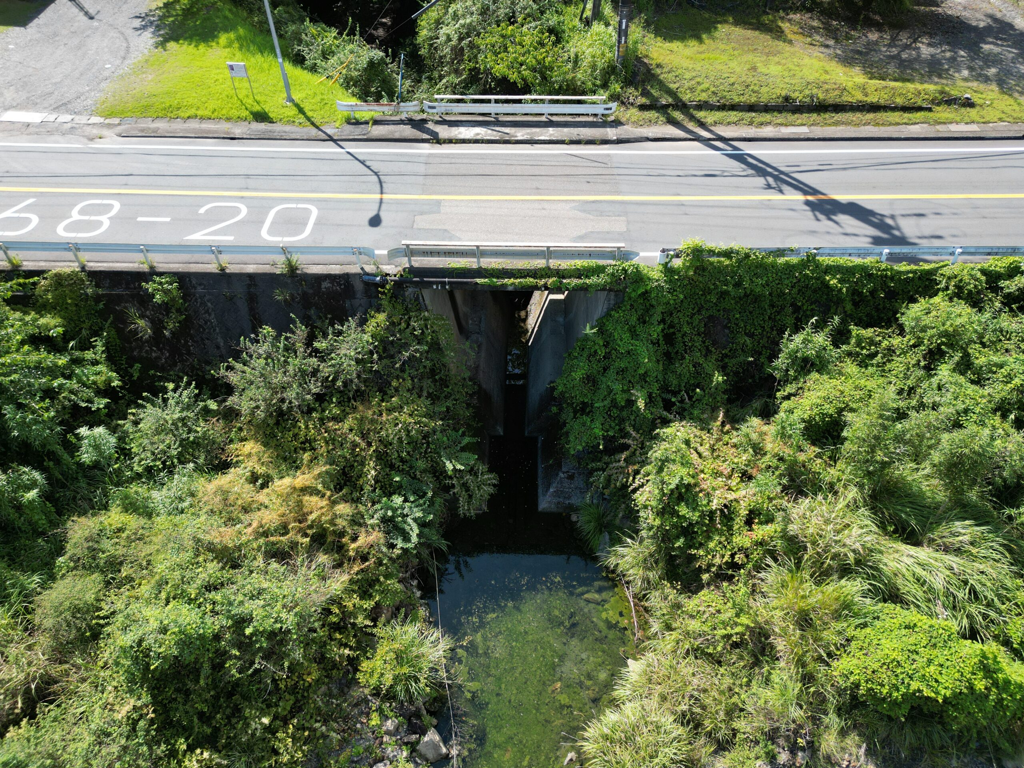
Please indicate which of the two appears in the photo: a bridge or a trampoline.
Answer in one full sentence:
This aerial view contains a bridge.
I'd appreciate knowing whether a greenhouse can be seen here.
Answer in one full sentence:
No, no greenhouse can be seen from above.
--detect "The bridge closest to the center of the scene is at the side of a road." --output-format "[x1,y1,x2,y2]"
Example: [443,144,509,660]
[407,260,625,522]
